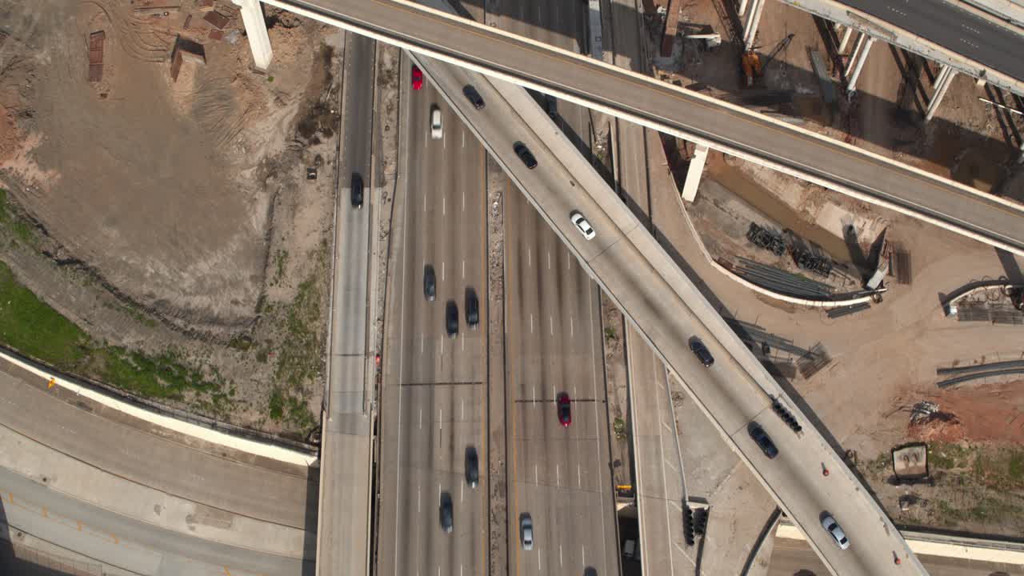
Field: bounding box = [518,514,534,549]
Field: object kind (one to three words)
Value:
car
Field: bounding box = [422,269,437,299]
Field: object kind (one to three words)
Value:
car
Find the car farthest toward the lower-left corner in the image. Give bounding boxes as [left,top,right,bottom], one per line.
[438,494,454,529]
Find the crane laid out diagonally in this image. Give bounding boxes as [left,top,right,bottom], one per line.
[740,38,788,93]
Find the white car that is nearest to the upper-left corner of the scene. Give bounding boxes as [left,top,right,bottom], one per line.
[429,109,443,135]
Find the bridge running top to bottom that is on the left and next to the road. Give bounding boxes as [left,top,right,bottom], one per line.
[314,415,376,576]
